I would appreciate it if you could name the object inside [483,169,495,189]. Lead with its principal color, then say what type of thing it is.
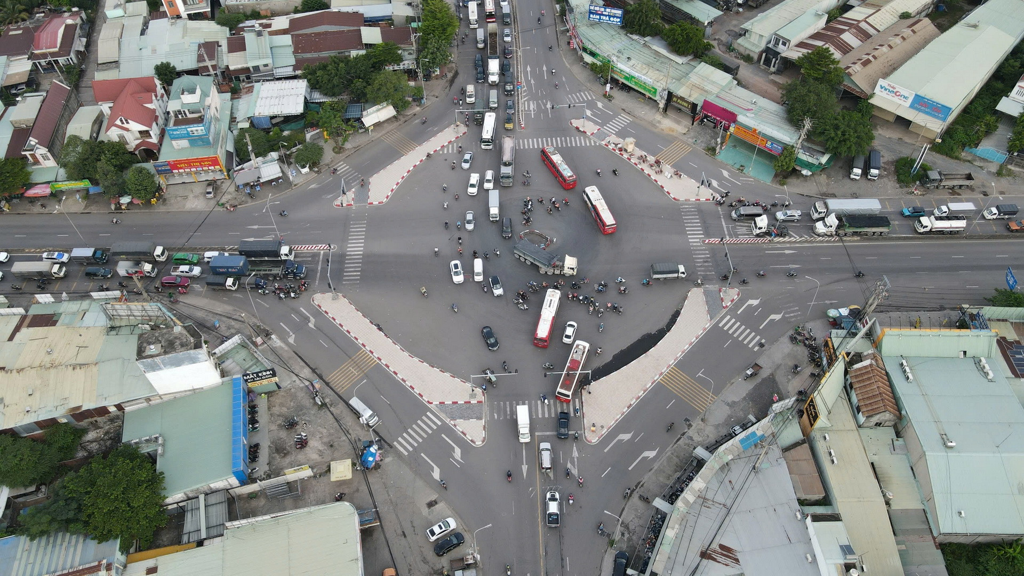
white vehicle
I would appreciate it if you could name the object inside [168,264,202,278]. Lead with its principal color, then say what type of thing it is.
white vehicle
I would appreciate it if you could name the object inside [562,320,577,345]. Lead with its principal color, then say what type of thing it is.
white car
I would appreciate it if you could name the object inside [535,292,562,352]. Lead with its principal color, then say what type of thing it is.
white bus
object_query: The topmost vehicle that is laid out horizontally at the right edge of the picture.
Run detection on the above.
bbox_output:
[921,170,979,190]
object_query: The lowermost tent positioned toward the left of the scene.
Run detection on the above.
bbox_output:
[327,459,356,483]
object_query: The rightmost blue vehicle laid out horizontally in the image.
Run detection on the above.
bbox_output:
[899,206,926,218]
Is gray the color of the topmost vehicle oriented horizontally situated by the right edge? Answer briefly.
Yes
